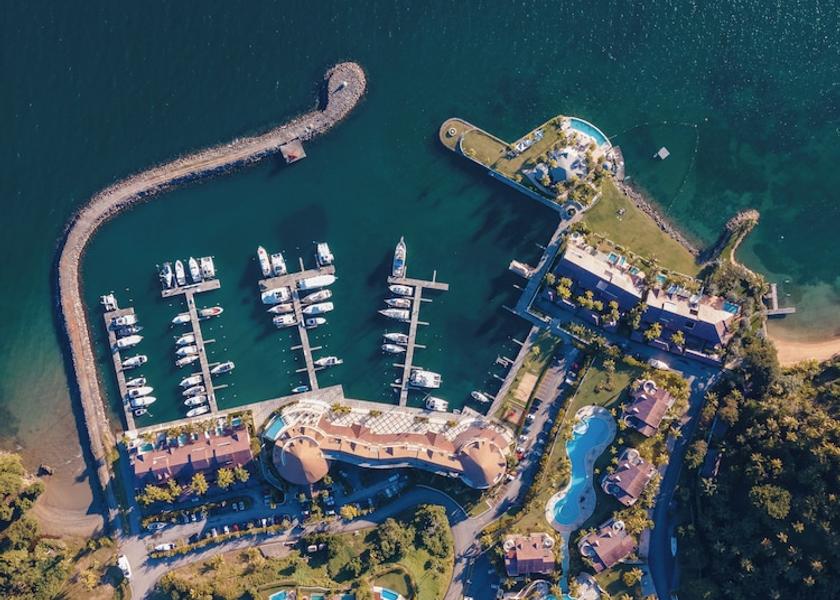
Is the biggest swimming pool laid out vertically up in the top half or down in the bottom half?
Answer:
bottom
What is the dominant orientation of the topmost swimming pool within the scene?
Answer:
on a diagonal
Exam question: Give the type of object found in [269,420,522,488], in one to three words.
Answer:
building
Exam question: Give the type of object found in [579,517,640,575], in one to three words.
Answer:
house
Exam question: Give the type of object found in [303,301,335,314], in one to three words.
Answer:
boat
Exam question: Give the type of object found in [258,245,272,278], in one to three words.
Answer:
boat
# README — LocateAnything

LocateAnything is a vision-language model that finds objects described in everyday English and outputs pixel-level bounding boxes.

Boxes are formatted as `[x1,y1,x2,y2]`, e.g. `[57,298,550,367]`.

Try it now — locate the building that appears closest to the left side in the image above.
[135,424,260,490]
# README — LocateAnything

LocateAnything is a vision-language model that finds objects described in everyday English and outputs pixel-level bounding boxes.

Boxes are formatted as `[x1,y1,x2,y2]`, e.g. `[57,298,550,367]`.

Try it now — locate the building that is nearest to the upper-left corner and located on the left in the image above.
[281,140,306,163]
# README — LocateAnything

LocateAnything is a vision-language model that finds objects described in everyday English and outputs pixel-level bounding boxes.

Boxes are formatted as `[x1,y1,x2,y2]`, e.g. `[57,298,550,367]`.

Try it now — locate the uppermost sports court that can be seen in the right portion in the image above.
[513,372,537,403]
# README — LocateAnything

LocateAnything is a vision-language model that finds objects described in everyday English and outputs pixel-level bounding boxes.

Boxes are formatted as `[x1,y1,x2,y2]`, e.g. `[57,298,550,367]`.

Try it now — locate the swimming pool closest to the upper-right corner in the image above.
[570,119,607,148]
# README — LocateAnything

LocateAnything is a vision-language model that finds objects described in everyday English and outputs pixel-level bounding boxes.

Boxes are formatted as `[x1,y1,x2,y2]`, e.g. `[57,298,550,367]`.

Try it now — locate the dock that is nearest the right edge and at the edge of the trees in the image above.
[764,284,796,314]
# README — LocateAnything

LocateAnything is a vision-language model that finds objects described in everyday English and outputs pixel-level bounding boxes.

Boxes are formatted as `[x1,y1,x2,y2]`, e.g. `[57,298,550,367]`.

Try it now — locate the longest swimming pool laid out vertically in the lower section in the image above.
[546,405,617,533]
